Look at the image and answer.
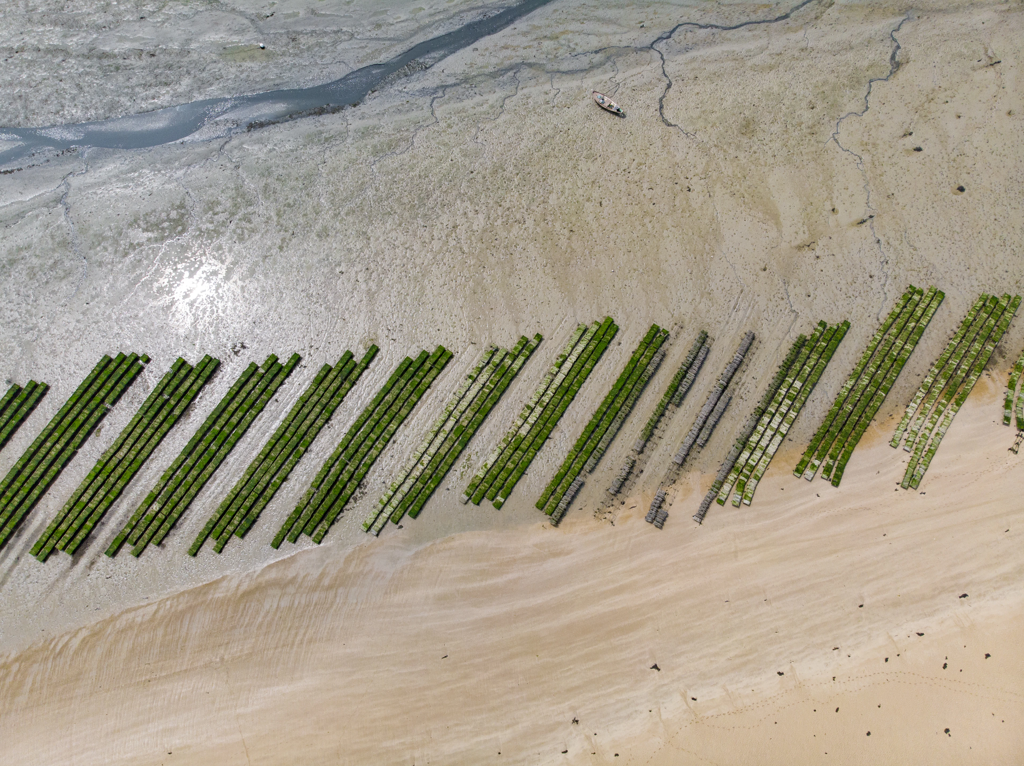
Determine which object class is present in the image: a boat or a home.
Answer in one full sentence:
There is a boat in the scene.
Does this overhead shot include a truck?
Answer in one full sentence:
No, I can't see a single truck in this photo.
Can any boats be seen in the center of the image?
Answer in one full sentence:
No, I can find no boat in the center of the image.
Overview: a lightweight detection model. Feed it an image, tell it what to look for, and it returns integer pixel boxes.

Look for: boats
[591,88,624,114]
